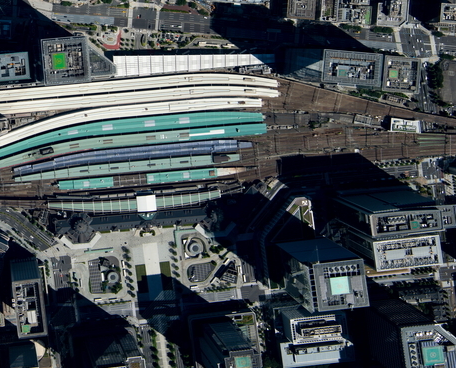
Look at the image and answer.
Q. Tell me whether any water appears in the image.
No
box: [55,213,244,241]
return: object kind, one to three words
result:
train station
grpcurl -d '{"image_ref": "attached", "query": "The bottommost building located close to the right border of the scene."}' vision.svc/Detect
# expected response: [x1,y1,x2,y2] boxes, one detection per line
[360,299,456,368]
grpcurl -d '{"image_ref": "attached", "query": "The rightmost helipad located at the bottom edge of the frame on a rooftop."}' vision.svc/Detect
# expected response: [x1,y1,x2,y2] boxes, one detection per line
[423,345,445,366]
